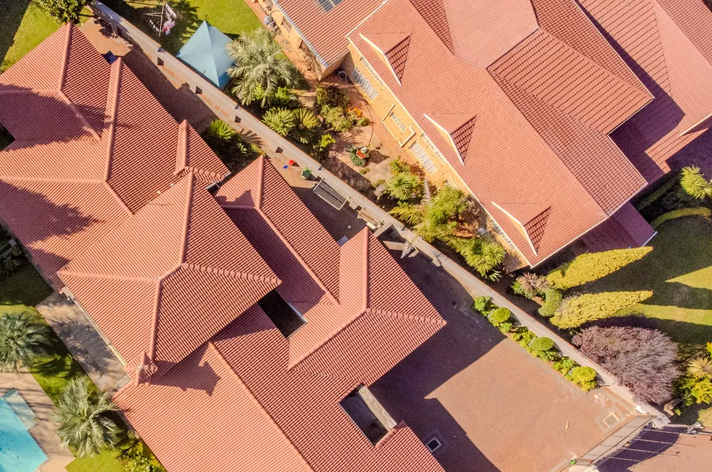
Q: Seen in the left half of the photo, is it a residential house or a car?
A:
residential house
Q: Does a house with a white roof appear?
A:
No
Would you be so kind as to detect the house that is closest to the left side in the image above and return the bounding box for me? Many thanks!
[0,21,447,472]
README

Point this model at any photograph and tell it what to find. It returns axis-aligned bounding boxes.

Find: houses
[0,21,447,472]
[253,0,712,267]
